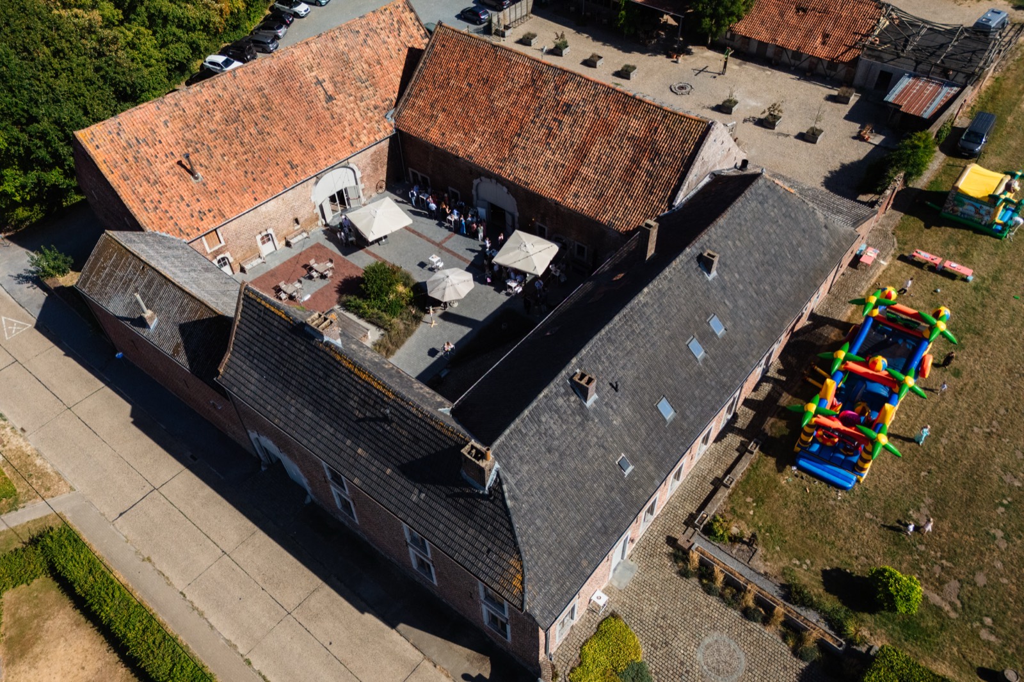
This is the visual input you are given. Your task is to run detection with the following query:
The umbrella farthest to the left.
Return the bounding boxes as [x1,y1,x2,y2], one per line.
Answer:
[341,197,413,250]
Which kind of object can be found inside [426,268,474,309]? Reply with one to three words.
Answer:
umbrella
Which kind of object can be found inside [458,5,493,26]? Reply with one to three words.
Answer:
car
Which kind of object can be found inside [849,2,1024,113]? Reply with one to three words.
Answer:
barn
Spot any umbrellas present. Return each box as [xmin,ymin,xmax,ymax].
[426,268,474,309]
[341,197,413,250]
[492,230,559,284]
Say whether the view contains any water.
No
